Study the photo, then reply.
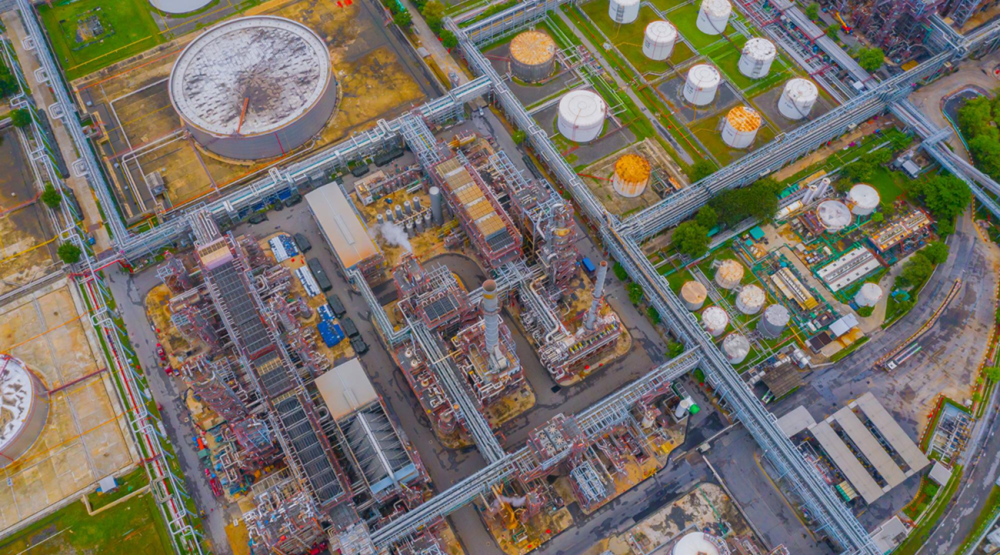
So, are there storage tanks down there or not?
Yes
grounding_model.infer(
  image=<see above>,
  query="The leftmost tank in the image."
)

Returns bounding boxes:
[0,345,58,464]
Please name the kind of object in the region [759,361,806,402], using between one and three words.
building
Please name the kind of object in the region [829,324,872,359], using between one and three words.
building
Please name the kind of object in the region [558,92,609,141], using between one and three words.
storage tank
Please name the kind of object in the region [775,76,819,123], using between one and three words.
storage tank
